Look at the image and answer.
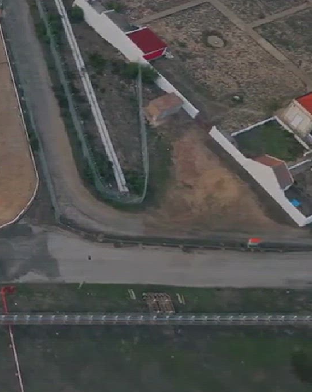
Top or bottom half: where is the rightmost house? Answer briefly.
top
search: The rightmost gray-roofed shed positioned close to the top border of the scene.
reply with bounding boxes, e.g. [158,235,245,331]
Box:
[106,11,141,33]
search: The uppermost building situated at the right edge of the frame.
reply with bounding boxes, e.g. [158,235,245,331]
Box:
[282,92,312,139]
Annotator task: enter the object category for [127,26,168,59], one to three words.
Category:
shed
